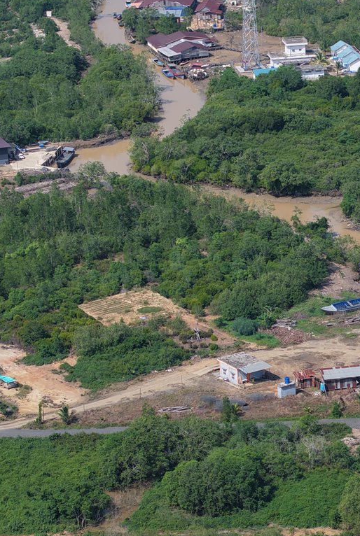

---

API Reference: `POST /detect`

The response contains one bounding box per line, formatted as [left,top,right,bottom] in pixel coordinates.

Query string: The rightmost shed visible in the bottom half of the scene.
[316,362,360,391]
